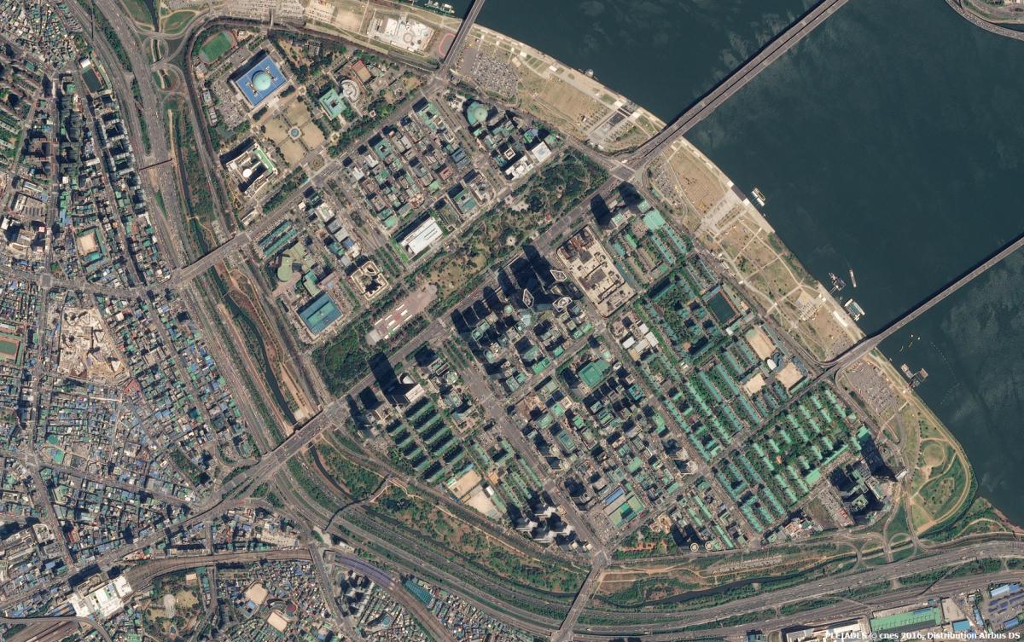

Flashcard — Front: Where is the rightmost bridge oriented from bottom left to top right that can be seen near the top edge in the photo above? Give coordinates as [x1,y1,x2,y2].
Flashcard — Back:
[624,0,847,170]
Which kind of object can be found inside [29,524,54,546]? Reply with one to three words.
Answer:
building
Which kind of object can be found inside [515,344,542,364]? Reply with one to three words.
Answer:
building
